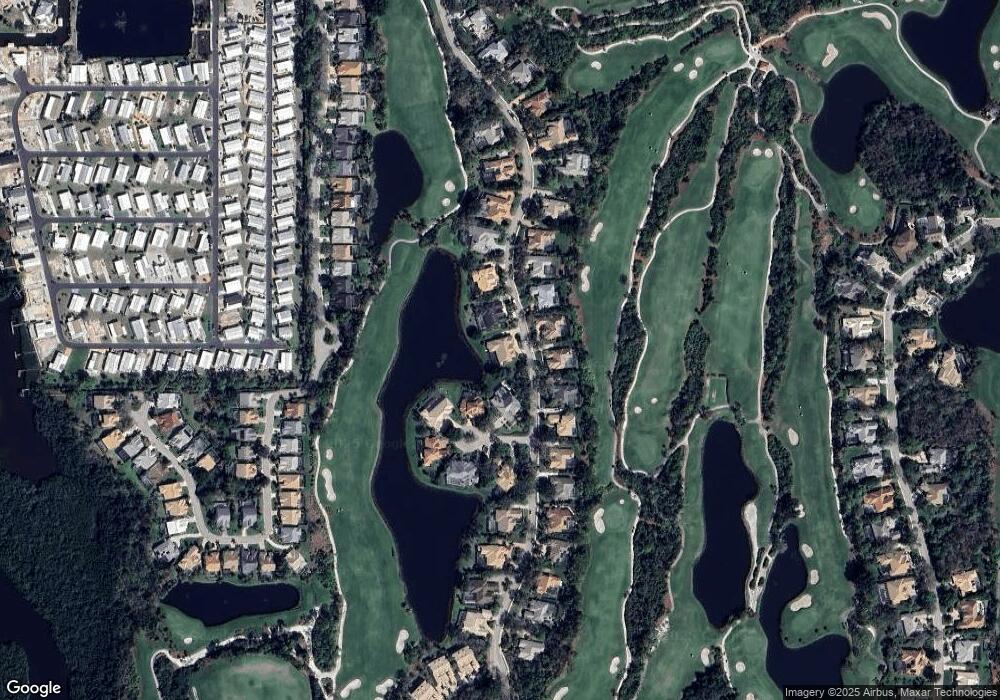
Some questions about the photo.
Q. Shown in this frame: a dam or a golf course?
golf course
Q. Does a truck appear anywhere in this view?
No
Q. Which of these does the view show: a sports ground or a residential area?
residential area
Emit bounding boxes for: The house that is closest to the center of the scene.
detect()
[481,336,516,361]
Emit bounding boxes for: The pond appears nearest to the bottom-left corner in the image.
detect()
[161,580,299,627]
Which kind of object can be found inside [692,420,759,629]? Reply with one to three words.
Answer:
pond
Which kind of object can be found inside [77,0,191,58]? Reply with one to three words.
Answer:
pond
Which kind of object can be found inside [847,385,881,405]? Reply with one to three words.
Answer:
house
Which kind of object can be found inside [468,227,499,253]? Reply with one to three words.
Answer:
house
